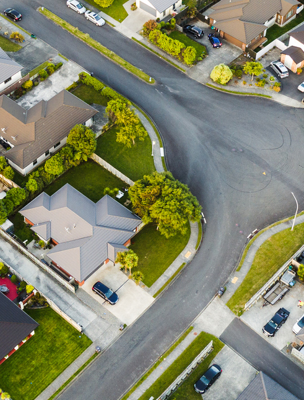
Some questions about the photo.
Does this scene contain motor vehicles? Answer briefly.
Yes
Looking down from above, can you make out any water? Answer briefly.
No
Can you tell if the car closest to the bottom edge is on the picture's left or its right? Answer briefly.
right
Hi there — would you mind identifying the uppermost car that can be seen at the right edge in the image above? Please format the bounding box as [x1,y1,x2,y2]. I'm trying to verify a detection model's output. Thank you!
[268,59,292,81]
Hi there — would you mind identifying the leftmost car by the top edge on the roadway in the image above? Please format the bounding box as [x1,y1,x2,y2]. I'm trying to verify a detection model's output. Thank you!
[2,7,24,23]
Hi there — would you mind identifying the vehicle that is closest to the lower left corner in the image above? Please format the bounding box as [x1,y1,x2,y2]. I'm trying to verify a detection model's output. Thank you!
[89,278,120,305]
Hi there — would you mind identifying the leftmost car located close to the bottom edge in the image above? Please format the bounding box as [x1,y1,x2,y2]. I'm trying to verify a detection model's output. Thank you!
[193,361,224,397]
